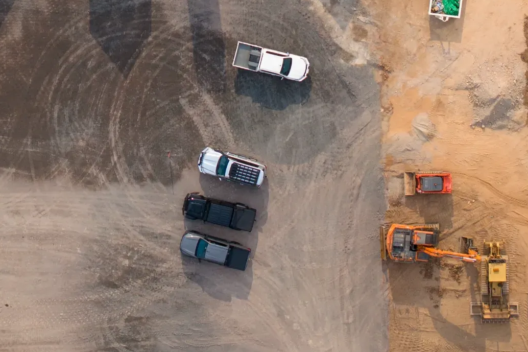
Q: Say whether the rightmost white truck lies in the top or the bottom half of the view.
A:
top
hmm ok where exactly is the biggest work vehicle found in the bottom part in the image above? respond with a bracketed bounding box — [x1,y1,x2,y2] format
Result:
[381,223,483,263]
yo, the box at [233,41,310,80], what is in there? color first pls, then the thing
white truck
